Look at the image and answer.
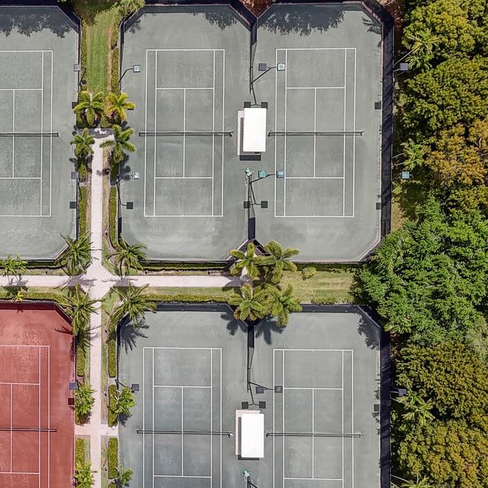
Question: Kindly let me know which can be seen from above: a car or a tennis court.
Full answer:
There is a tennis court in the scene.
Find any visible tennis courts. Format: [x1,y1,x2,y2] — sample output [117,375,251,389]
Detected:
[0,301,76,488]
[118,306,248,488]
[118,4,251,260]
[0,5,79,260]
[254,2,382,262]
[253,305,381,488]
